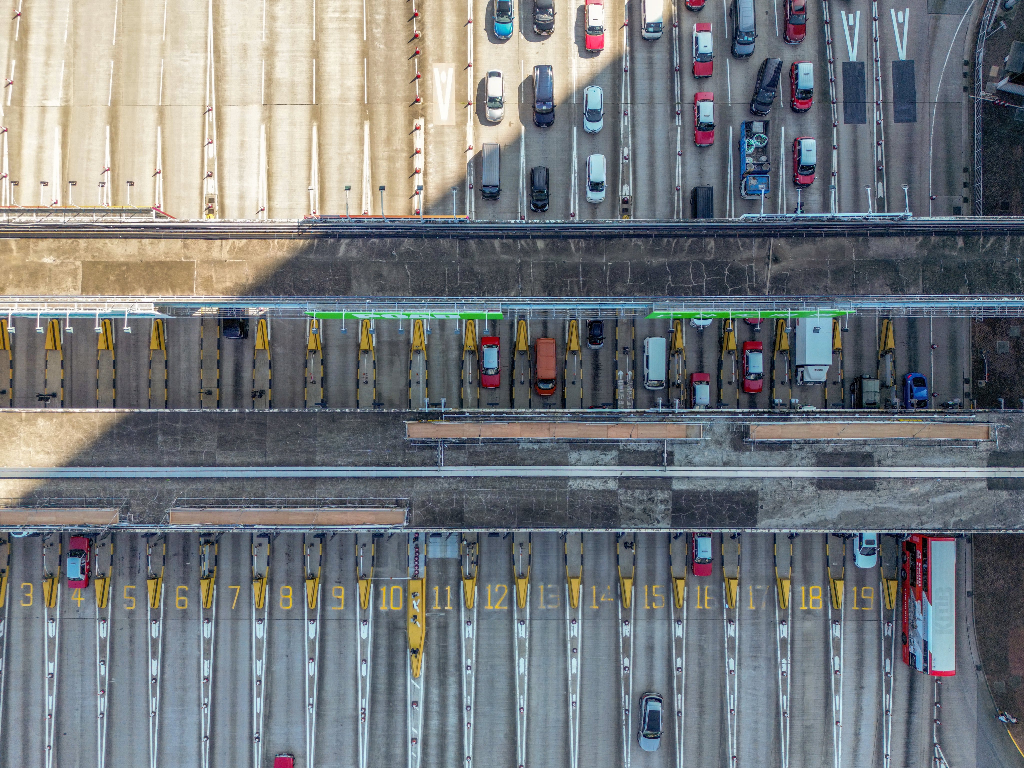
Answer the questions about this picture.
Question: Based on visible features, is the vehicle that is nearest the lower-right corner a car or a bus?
bus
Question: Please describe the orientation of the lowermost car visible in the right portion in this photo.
up and down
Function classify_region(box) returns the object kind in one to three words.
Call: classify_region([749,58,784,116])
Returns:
van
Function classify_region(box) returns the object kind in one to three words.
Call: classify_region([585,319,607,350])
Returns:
car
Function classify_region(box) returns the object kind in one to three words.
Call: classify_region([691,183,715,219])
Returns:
vehicle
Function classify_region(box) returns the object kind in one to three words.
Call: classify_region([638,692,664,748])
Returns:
car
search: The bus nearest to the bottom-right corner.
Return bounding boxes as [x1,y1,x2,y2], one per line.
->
[898,533,956,675]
